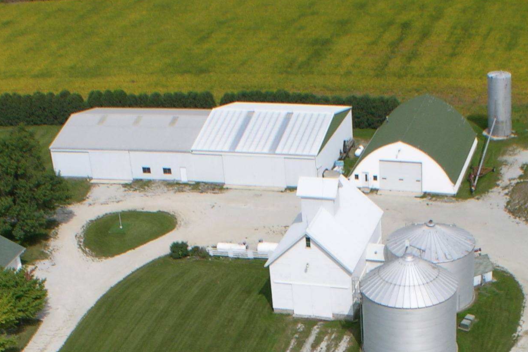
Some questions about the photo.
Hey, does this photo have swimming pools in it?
No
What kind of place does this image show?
industrial area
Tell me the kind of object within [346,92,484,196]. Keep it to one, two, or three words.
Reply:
barn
